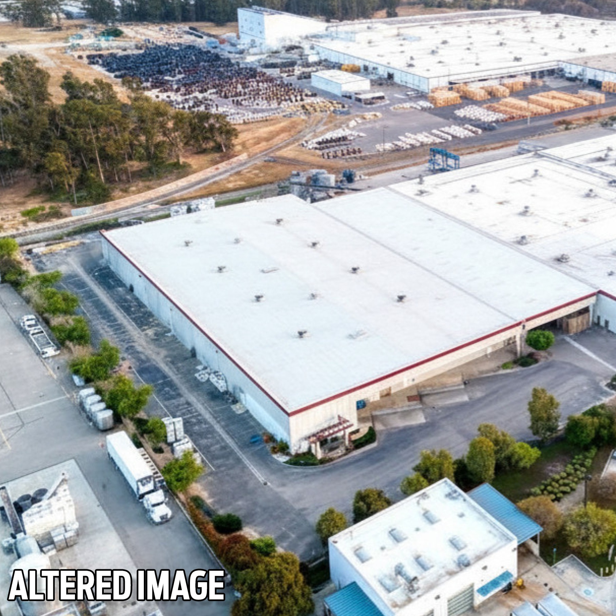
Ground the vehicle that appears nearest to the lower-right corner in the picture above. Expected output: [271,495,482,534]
[541,594,575,616]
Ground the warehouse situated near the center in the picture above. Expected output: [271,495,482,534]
[101,152,616,456]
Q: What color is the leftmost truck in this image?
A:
white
